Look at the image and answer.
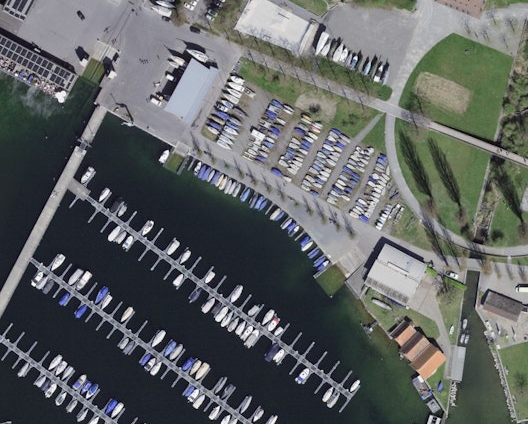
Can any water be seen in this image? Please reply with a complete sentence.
Yes, there is water in the image.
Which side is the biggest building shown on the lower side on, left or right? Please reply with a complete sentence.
The biggest building shown on the lower side appears in the right half of the scene.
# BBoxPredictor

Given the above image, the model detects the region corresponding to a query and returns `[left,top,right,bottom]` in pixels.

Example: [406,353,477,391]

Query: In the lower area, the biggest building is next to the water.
[365,242,427,307]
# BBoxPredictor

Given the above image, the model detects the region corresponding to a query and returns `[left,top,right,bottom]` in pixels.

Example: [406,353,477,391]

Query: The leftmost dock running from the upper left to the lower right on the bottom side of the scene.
[0,322,139,424]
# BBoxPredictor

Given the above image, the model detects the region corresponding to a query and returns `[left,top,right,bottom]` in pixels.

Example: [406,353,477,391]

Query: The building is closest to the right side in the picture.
[483,289,524,321]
